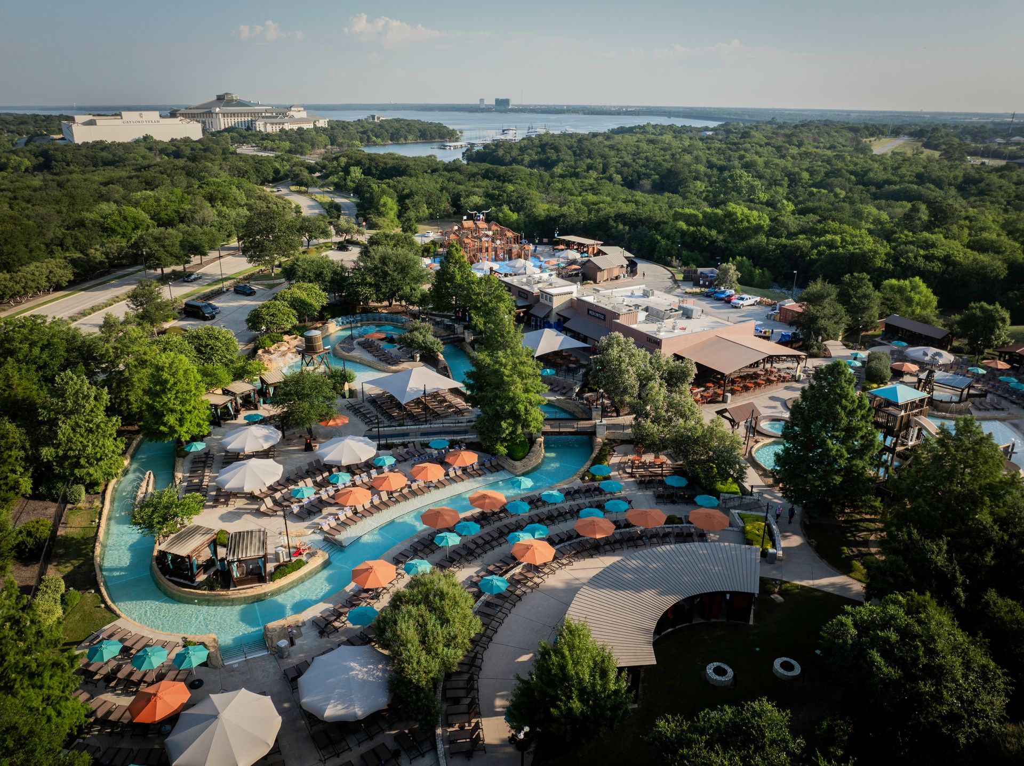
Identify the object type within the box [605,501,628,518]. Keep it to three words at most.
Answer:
umbrella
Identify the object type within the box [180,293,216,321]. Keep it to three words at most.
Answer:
van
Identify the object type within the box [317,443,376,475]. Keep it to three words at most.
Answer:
umbrella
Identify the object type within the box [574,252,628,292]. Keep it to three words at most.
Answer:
barn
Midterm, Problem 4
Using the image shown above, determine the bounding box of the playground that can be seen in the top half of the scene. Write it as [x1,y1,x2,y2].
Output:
[441,206,533,275]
